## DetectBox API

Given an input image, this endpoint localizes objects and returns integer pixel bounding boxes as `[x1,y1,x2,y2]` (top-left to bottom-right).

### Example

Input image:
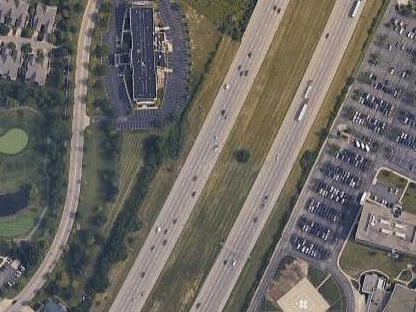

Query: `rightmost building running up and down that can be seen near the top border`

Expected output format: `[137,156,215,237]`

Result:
[114,3,165,105]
